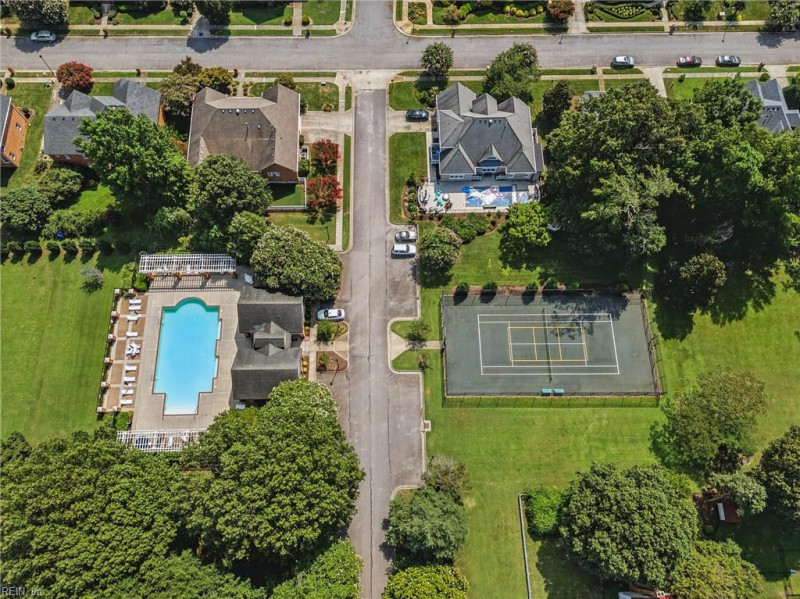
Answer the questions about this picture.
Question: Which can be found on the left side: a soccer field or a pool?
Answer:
pool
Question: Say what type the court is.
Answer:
tennis court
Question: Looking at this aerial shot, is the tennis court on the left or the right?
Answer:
right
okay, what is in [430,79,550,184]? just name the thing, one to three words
house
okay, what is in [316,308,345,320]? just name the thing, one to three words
vehicle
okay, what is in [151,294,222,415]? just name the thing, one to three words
swimming pool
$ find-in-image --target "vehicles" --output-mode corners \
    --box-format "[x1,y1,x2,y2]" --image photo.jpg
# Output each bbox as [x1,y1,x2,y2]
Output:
[31,31,56,43]
[677,57,701,68]
[316,308,345,320]
[395,230,416,241]
[405,110,428,121]
[716,57,740,68]
[391,244,416,255]
[610,56,634,68]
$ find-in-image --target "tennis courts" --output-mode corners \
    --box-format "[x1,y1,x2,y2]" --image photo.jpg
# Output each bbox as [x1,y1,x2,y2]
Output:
[442,292,659,398]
